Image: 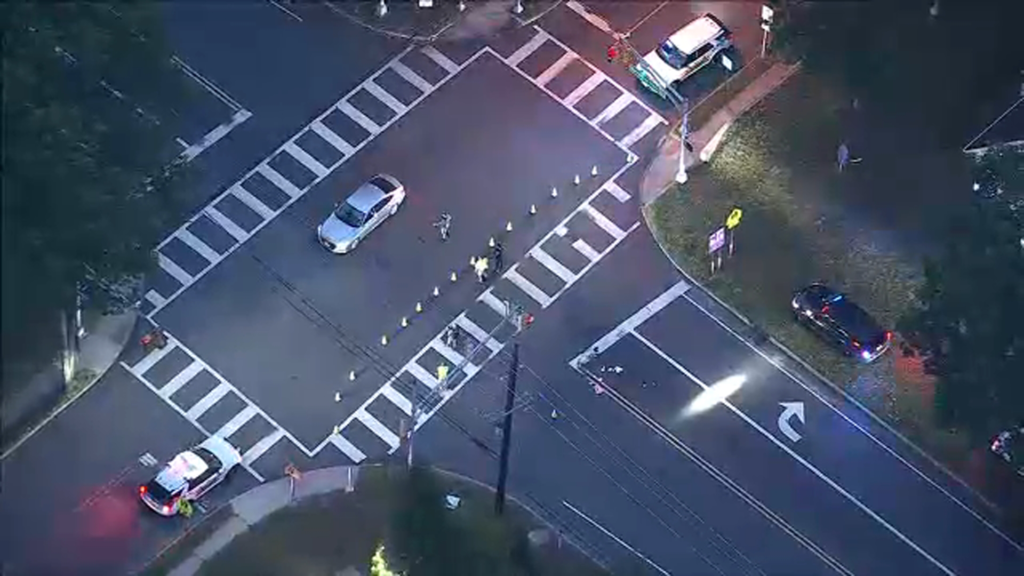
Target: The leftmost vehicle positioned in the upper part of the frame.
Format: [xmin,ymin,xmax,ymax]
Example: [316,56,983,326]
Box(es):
[318,172,404,253]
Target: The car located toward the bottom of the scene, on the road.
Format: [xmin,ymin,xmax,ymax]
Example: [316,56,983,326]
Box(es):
[141,437,247,519]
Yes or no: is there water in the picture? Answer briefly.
No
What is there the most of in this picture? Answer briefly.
paved ground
